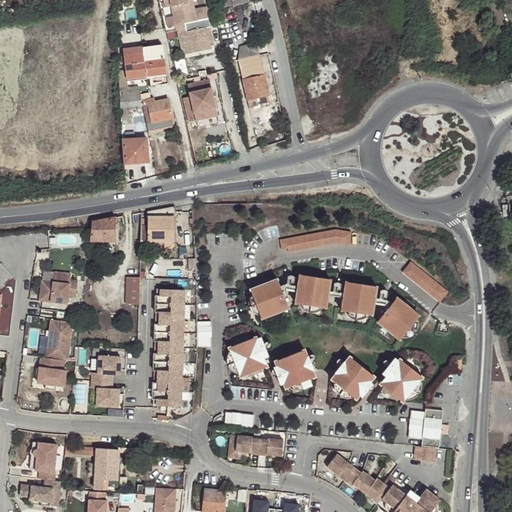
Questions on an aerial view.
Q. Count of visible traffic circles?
1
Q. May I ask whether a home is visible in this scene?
Yes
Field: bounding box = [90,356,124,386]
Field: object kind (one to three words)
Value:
house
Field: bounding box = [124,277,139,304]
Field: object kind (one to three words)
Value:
shed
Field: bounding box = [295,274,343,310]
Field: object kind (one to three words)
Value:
building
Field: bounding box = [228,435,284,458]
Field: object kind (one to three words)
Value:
house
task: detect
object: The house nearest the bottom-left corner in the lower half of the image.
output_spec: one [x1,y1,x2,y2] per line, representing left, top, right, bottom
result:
[19,482,60,512]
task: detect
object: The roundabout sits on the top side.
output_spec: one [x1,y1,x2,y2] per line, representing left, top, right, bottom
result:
[357,80,500,222]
